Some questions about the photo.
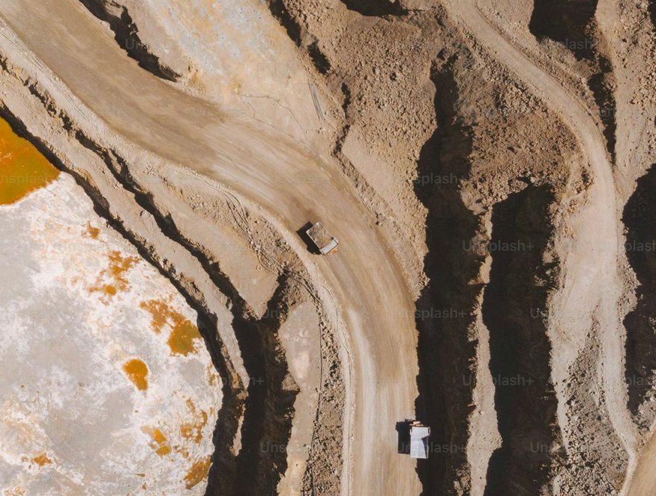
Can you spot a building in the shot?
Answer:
No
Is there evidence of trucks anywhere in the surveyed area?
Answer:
Yes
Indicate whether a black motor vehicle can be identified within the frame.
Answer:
No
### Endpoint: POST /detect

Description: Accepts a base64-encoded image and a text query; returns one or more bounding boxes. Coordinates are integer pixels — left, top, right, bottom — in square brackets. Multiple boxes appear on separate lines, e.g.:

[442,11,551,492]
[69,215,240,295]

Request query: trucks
[307,221,339,256]
[404,421,426,456]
